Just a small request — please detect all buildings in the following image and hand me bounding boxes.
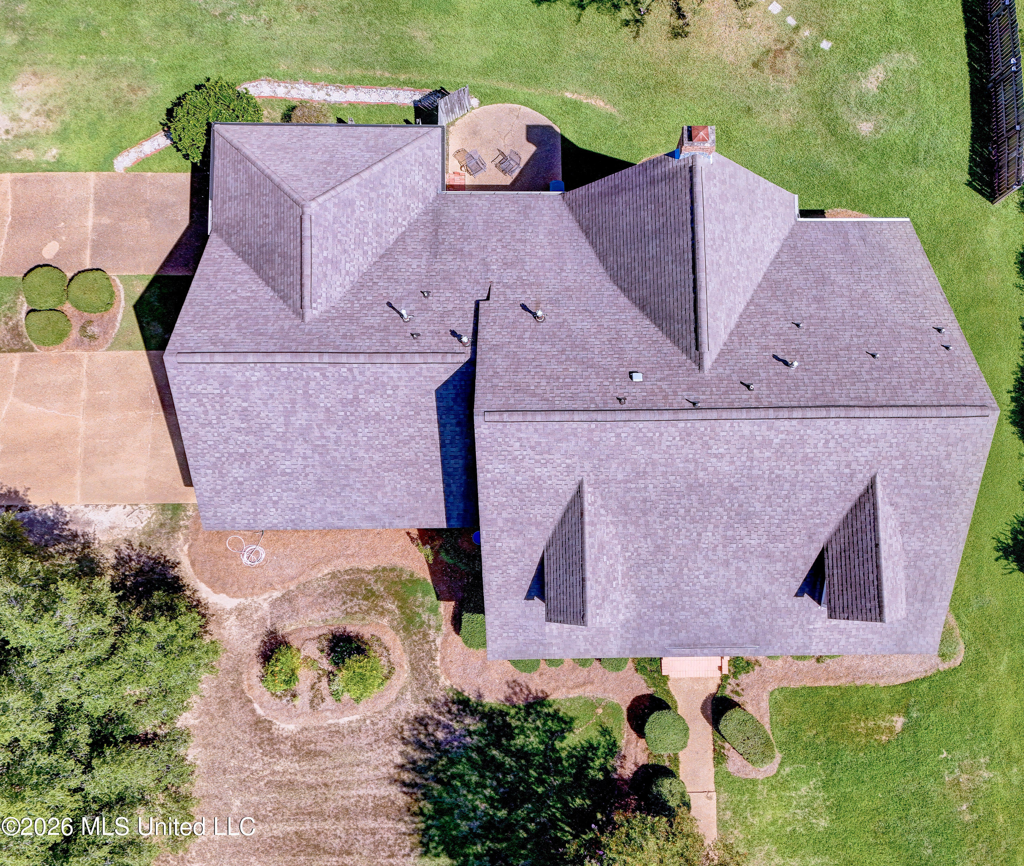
[164,120,1000,661]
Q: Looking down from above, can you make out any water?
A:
No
